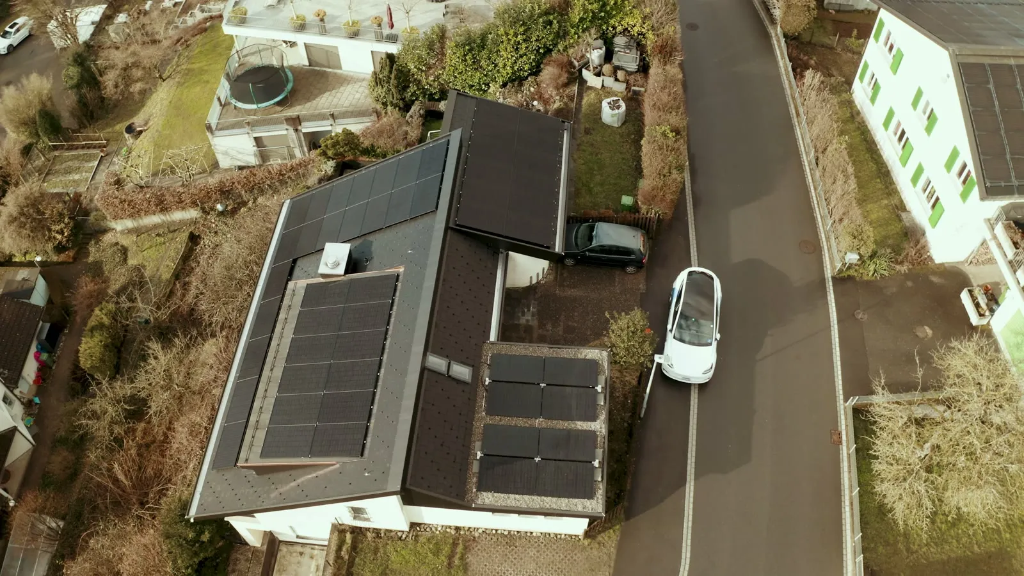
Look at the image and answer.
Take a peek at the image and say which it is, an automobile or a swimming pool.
automobile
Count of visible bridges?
0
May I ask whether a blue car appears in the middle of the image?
No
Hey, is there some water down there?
No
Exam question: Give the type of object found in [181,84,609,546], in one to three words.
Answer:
house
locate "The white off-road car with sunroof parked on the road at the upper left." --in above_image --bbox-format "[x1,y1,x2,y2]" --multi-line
[0,17,35,58]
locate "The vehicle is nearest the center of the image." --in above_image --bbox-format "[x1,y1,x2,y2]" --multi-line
[549,224,648,277]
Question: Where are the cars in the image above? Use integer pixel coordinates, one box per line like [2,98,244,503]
[660,269,722,386]
[549,224,648,277]
[0,17,35,58]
